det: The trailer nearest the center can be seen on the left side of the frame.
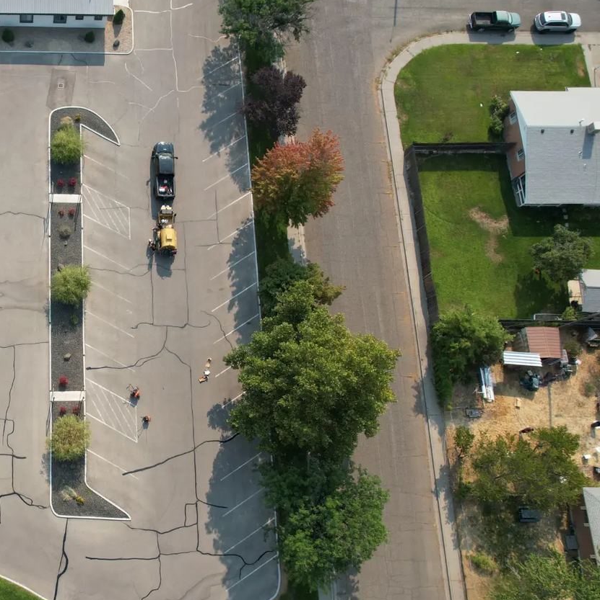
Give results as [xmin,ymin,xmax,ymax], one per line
[155,201,178,257]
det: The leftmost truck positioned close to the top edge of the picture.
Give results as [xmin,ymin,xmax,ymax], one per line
[465,8,520,32]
